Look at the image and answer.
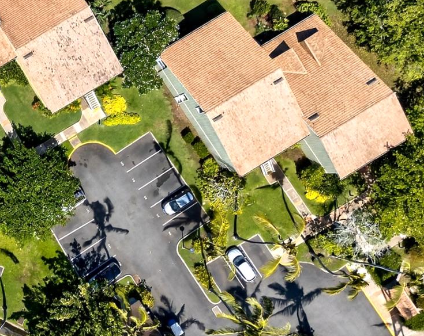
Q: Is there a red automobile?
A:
No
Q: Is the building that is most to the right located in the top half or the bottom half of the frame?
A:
bottom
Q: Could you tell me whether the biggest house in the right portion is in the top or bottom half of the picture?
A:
top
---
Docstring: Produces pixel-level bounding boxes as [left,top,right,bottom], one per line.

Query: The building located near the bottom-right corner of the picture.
[375,283,420,320]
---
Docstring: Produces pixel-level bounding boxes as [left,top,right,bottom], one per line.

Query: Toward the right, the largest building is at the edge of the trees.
[154,11,413,182]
